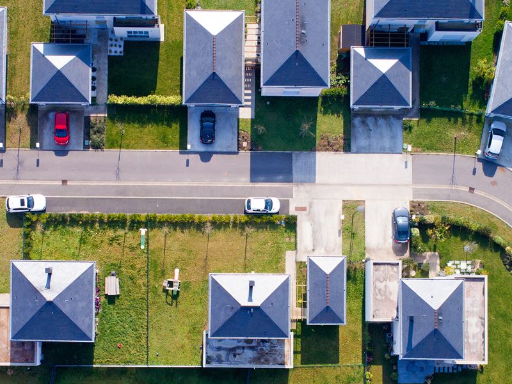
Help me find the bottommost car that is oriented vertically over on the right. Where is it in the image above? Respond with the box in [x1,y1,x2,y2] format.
[393,208,410,244]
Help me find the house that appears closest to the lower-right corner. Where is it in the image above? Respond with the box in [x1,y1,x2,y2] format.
[365,260,488,365]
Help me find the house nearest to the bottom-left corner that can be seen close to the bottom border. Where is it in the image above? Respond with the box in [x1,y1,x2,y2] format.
[0,262,97,366]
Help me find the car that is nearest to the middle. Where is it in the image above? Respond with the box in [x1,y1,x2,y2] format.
[245,196,279,214]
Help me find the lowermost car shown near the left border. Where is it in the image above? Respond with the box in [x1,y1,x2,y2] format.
[6,193,47,212]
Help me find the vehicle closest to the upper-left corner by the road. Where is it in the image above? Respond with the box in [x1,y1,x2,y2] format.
[52,110,71,146]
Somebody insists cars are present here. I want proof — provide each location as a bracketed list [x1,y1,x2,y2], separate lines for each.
[52,110,71,146]
[198,108,217,146]
[245,196,279,214]
[6,193,47,212]
[393,208,410,244]
[483,120,507,160]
